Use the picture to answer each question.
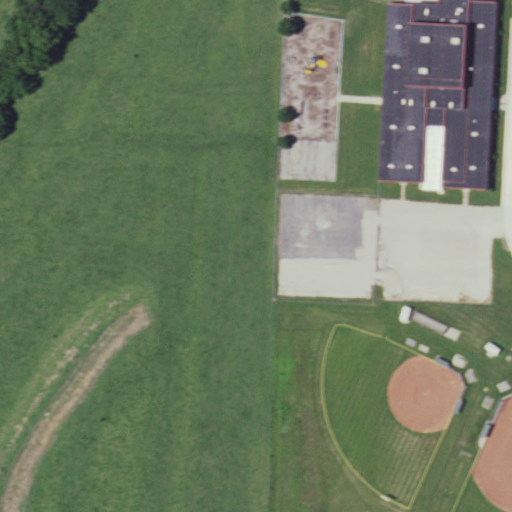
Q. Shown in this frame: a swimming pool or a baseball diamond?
baseball diamond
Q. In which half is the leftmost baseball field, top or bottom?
bottom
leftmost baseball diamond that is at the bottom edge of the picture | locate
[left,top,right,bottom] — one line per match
[320,322,466,510]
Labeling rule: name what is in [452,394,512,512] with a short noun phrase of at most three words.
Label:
baseball field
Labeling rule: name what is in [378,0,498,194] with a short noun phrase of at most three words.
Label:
building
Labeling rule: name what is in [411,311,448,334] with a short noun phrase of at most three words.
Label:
shed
